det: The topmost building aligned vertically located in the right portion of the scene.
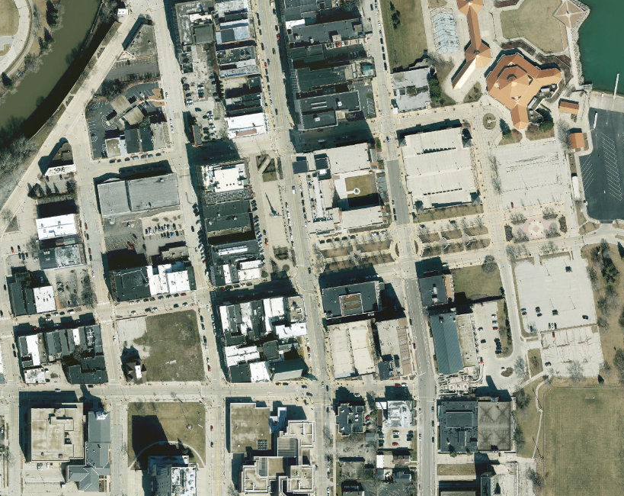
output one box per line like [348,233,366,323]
[454,0,491,89]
